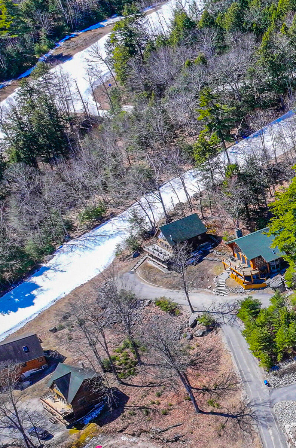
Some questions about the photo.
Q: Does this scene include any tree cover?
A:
Yes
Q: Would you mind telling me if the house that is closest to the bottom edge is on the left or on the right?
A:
left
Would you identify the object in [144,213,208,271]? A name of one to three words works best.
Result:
house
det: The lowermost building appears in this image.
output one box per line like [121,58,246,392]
[37,362,103,426]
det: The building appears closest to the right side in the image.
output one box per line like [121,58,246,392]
[223,225,293,288]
